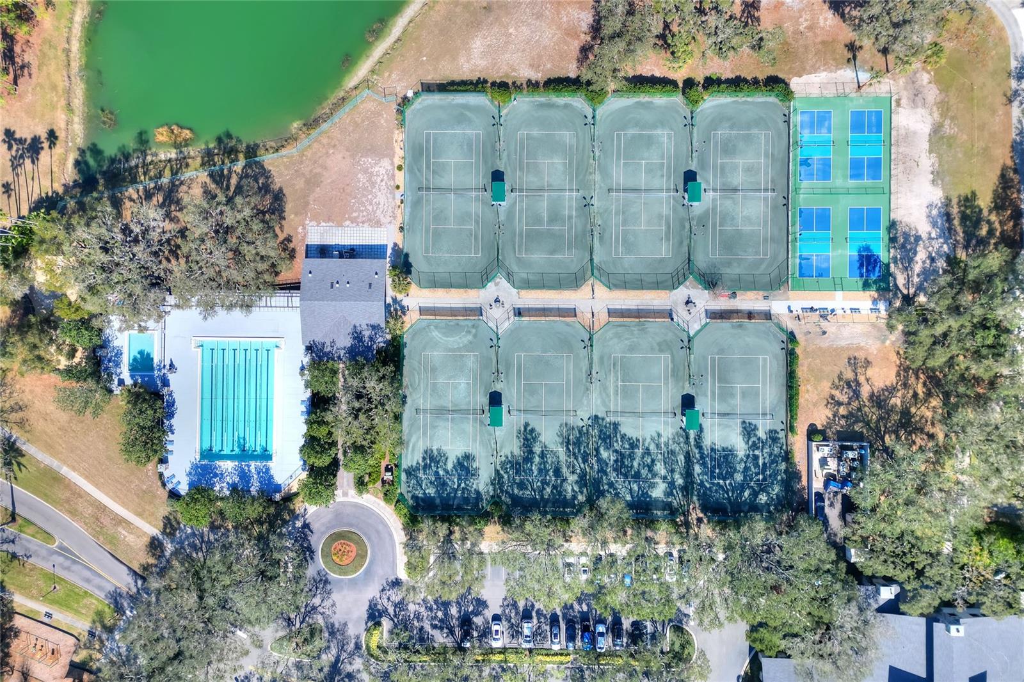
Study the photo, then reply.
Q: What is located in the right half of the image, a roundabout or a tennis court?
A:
tennis court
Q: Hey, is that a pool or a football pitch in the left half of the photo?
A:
pool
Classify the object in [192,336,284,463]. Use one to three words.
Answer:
swimming pool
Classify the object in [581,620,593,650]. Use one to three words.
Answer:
vehicle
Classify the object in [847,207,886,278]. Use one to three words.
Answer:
sports court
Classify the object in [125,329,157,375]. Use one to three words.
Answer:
swimming pool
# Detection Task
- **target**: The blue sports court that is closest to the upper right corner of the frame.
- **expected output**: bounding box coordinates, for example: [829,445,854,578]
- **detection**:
[848,110,887,180]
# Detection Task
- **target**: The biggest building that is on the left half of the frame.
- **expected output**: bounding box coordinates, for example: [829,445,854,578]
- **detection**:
[300,259,388,362]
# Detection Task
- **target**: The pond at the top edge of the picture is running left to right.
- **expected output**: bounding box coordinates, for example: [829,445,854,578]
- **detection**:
[98,0,400,149]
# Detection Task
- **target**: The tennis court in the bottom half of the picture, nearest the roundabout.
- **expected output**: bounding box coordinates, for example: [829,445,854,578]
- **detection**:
[400,320,496,514]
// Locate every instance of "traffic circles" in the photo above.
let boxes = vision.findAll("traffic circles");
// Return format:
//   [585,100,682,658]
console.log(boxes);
[319,528,369,577]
